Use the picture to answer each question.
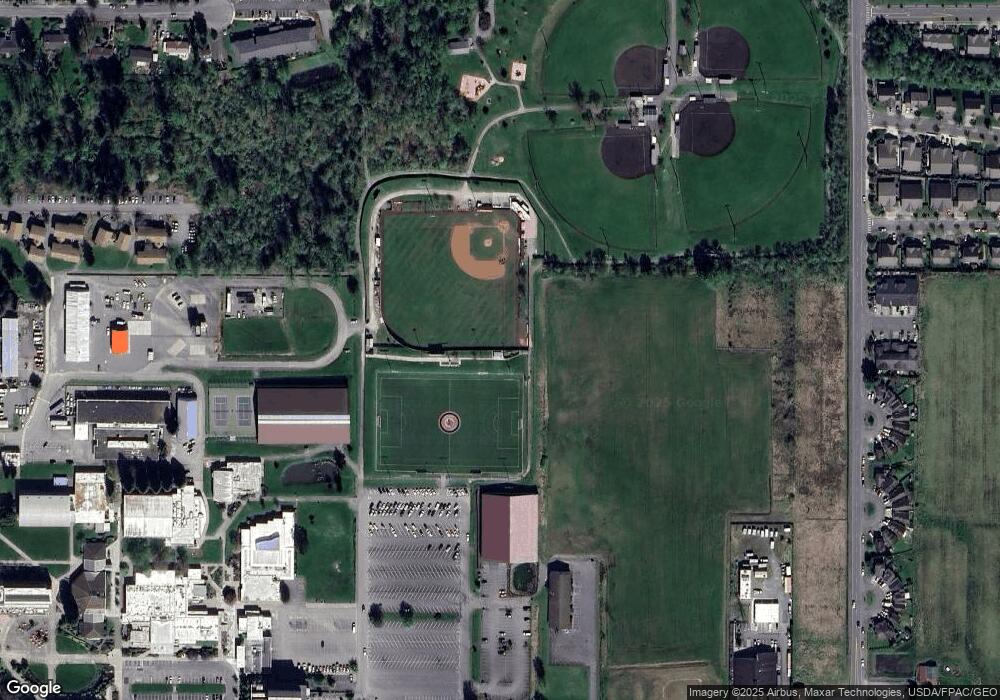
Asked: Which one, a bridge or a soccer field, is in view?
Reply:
soccer field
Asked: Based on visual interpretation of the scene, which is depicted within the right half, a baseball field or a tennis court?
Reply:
baseball field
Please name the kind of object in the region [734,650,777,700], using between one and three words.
building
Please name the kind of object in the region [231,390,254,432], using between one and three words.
tennis court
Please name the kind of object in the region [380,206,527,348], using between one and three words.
baseball field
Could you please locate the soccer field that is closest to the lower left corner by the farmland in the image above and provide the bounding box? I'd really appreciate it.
[366,361,528,474]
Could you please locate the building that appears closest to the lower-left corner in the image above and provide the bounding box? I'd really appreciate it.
[0,581,52,614]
